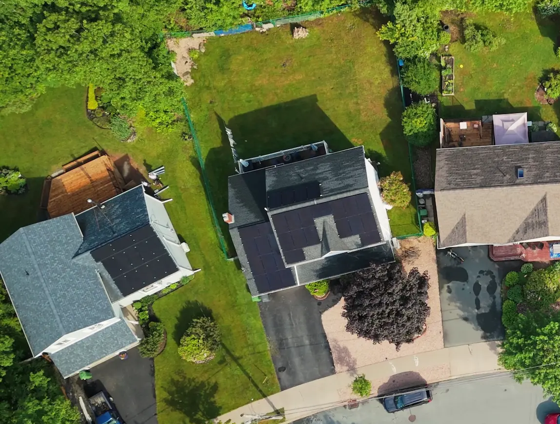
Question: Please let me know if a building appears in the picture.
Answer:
Yes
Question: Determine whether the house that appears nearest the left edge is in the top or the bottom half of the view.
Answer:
bottom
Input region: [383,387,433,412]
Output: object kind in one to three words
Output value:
car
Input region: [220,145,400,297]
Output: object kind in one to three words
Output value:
house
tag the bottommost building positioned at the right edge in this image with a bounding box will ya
[434,140,560,252]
